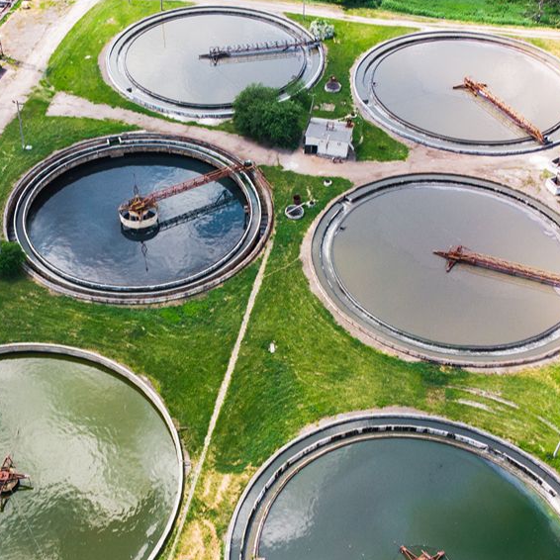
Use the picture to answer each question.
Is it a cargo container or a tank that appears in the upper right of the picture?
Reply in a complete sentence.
What appears in the upper right of the picture is a tank.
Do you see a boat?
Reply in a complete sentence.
No, this view has no boat in it.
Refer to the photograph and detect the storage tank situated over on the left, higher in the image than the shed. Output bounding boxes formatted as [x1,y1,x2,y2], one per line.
[106,6,323,121]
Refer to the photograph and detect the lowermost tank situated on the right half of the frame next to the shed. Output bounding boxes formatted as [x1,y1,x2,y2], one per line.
[312,170,560,368]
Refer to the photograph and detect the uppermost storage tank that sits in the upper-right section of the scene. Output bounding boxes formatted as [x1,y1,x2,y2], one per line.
[355,30,560,155]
